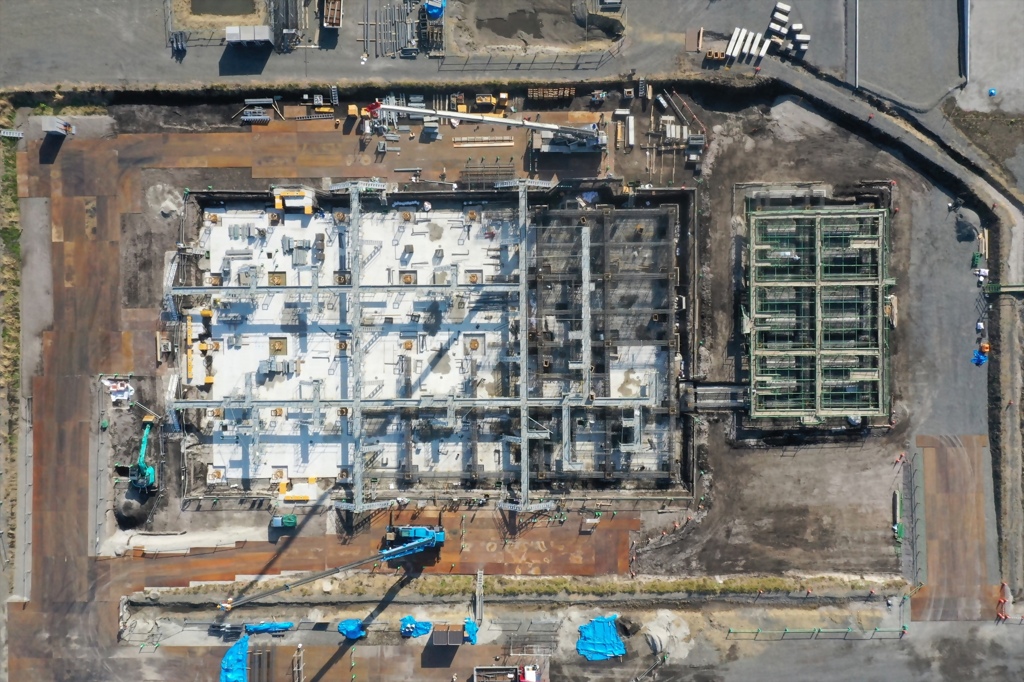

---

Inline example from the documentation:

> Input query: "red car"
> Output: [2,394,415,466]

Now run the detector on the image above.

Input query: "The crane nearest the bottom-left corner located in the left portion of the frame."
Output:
[218,505,445,611]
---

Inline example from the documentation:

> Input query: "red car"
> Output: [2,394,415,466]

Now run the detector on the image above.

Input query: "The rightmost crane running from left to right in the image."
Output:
[366,99,607,173]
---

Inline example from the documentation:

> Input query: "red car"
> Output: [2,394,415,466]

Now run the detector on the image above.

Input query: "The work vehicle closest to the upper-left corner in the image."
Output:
[64,121,80,138]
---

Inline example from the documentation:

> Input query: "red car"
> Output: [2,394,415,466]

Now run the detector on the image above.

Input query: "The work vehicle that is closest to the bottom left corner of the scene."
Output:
[131,413,156,491]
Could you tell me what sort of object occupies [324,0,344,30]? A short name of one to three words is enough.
vehicle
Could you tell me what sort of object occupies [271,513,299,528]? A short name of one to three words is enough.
vehicle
